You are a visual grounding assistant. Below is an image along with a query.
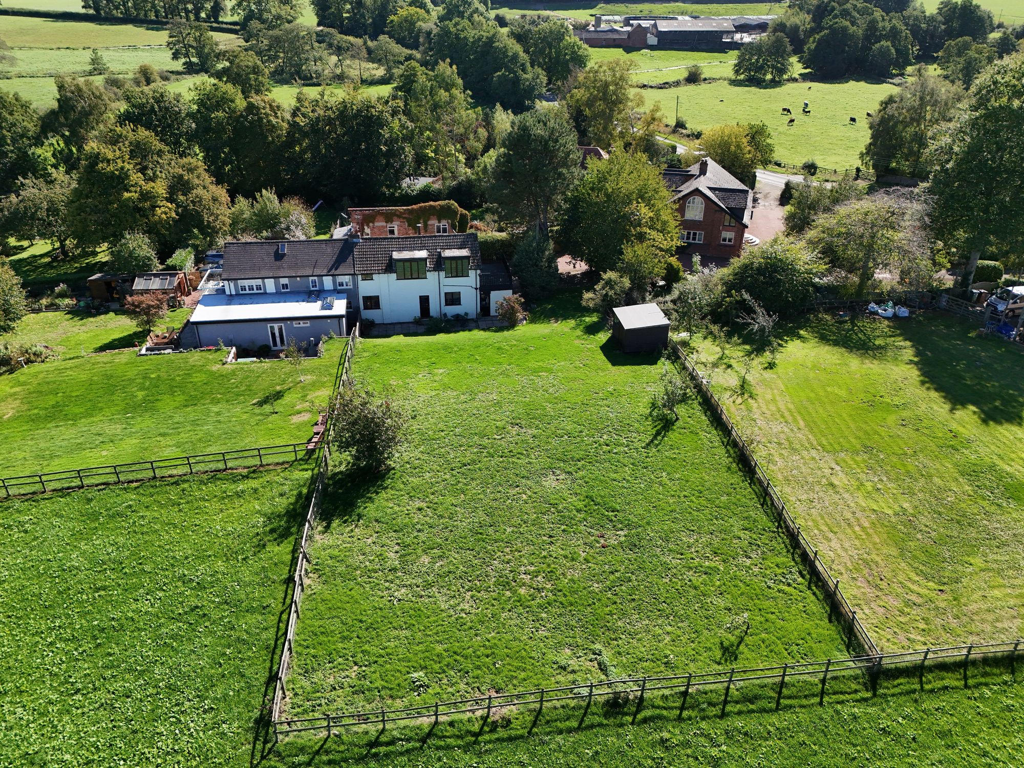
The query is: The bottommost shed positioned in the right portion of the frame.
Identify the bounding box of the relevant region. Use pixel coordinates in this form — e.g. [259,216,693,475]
[612,302,673,352]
